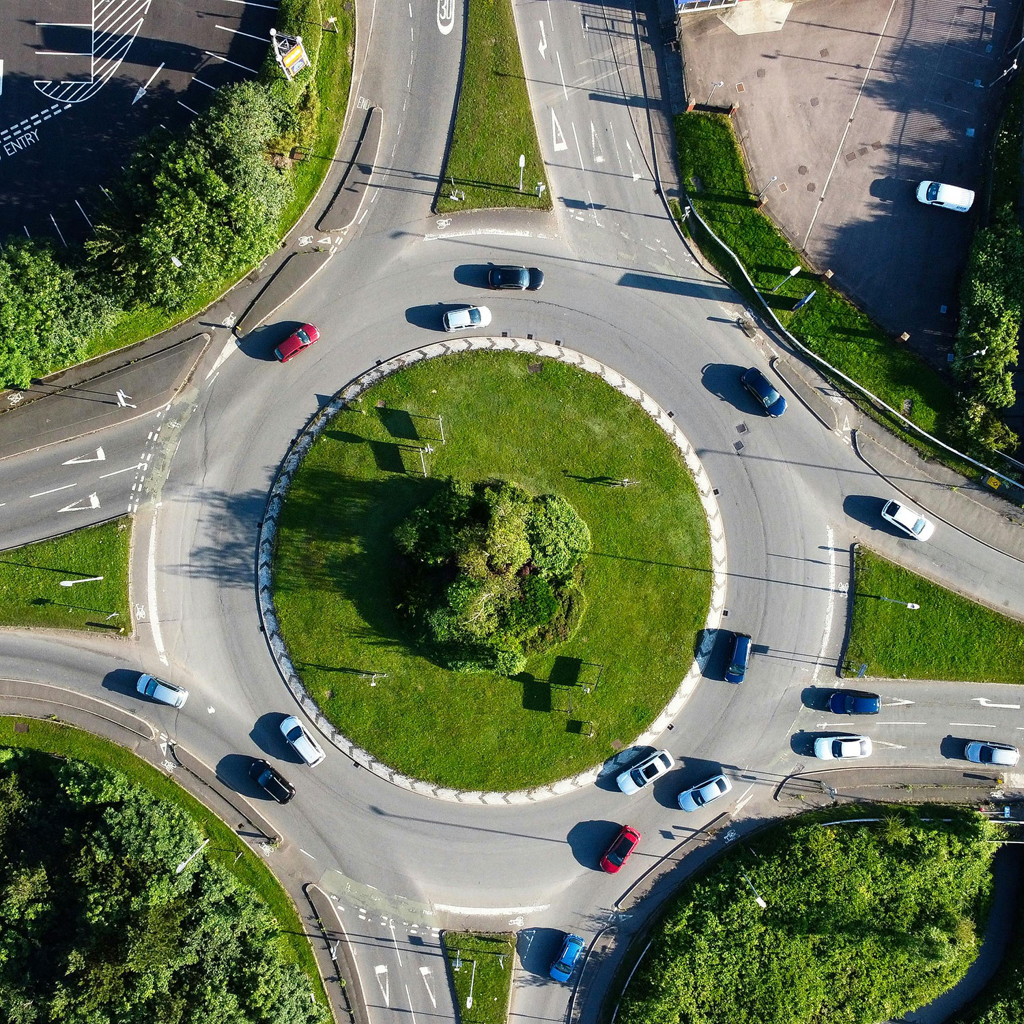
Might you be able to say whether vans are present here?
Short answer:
Yes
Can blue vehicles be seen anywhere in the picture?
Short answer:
Yes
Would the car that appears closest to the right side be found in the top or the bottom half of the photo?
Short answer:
bottom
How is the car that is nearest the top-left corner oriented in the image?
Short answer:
on a diagonal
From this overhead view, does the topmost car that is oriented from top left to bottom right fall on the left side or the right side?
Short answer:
right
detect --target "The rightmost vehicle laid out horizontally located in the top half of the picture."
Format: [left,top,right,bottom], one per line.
[914,179,978,213]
